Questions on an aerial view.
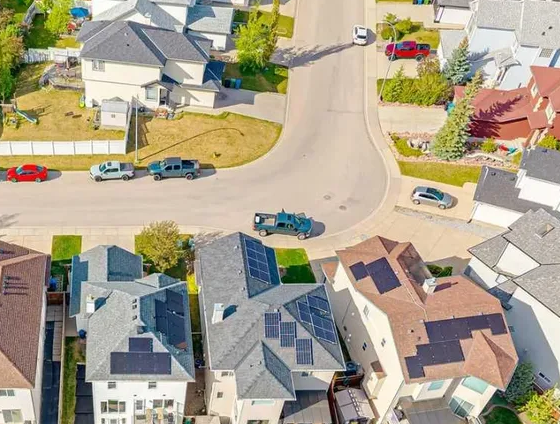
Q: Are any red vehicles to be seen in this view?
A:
Yes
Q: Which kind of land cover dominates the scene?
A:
buildings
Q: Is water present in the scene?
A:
No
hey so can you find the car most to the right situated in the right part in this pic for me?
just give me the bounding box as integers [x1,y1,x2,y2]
[411,184,455,210]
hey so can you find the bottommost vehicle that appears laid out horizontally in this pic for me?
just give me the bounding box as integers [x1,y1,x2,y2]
[252,210,314,238]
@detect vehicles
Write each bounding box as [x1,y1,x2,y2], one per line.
[353,25,370,45]
[149,156,201,180]
[252,210,314,238]
[89,159,137,181]
[5,164,48,183]
[385,38,433,59]
[411,184,455,210]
